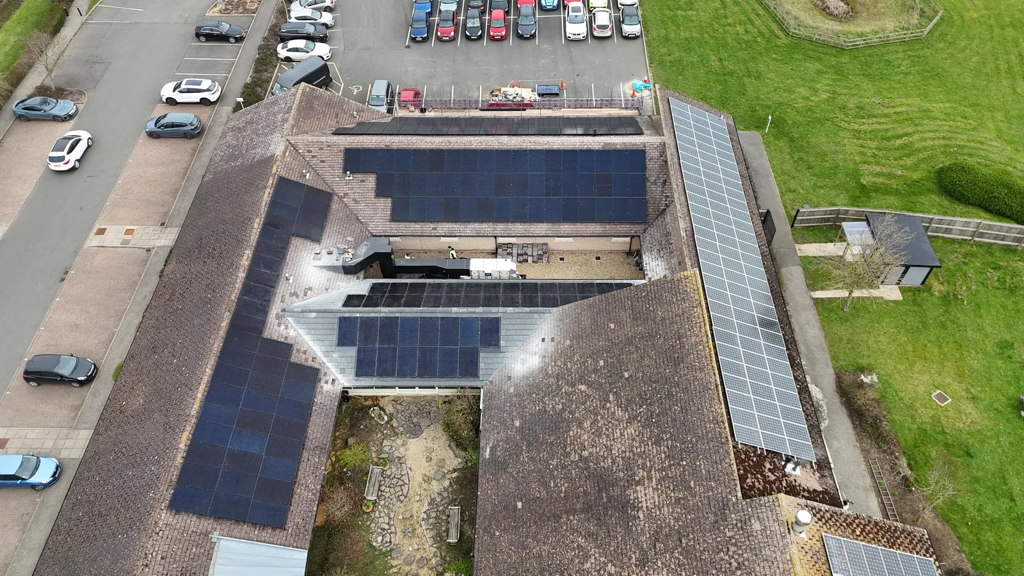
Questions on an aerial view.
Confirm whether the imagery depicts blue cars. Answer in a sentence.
Yes, a blue car appears in the view.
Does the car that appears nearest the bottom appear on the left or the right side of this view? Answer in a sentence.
It is on the left.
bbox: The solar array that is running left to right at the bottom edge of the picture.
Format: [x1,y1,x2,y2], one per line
[823,533,941,576]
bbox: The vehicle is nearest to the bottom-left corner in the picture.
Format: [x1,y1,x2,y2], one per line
[0,447,57,489]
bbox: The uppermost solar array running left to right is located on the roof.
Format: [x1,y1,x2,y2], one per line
[333,115,643,133]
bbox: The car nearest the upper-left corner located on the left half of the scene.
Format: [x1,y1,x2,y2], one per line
[9,95,74,121]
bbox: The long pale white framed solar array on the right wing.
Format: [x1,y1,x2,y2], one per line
[670,96,815,466]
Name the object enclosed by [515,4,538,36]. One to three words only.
car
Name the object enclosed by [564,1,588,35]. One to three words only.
car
